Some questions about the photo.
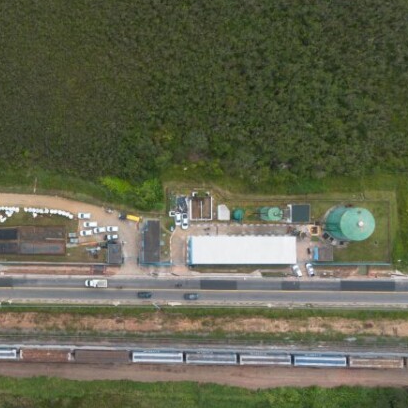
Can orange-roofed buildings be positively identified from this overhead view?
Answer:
No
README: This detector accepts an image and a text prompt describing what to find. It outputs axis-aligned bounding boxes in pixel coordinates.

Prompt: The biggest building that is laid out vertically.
[140,219,160,263]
